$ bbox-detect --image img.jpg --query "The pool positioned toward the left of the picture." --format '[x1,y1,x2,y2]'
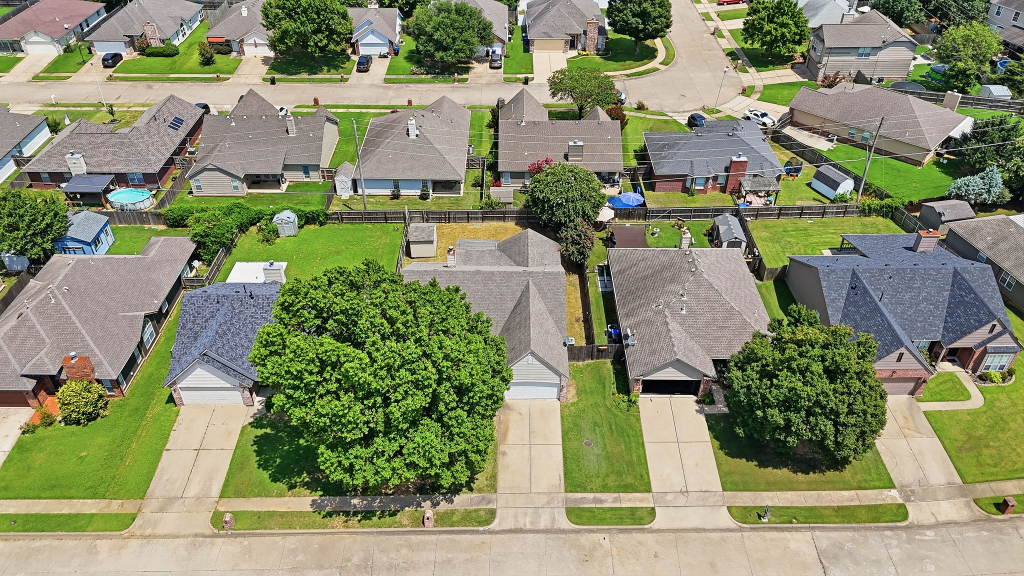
[104,184,159,212]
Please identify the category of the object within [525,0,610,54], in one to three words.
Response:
house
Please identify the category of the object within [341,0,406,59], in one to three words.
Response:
house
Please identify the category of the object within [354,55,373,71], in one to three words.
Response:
car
